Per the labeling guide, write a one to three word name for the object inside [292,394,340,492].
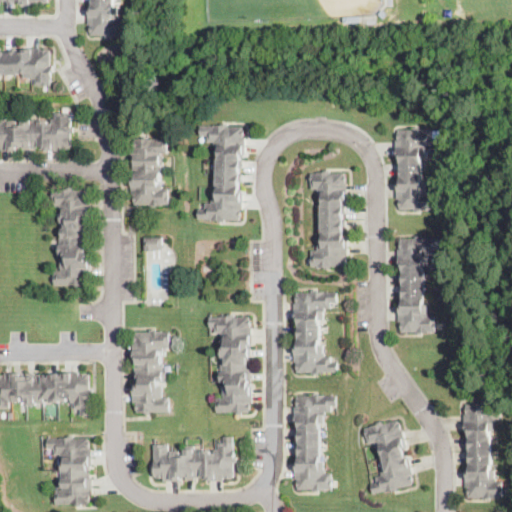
house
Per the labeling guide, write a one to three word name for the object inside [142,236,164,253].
building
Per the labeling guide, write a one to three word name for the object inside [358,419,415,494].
house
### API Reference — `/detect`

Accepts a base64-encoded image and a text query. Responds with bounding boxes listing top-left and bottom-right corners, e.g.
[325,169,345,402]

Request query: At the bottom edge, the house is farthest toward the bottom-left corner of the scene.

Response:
[44,437,92,506]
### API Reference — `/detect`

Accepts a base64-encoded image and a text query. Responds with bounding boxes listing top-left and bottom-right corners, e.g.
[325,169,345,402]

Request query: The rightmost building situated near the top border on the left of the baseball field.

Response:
[84,0,120,36]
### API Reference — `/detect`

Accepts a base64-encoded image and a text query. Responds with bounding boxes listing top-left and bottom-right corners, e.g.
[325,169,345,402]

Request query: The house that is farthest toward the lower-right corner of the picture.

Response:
[462,404,500,500]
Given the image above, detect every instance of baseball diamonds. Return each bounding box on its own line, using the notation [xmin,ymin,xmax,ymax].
[208,0,404,28]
